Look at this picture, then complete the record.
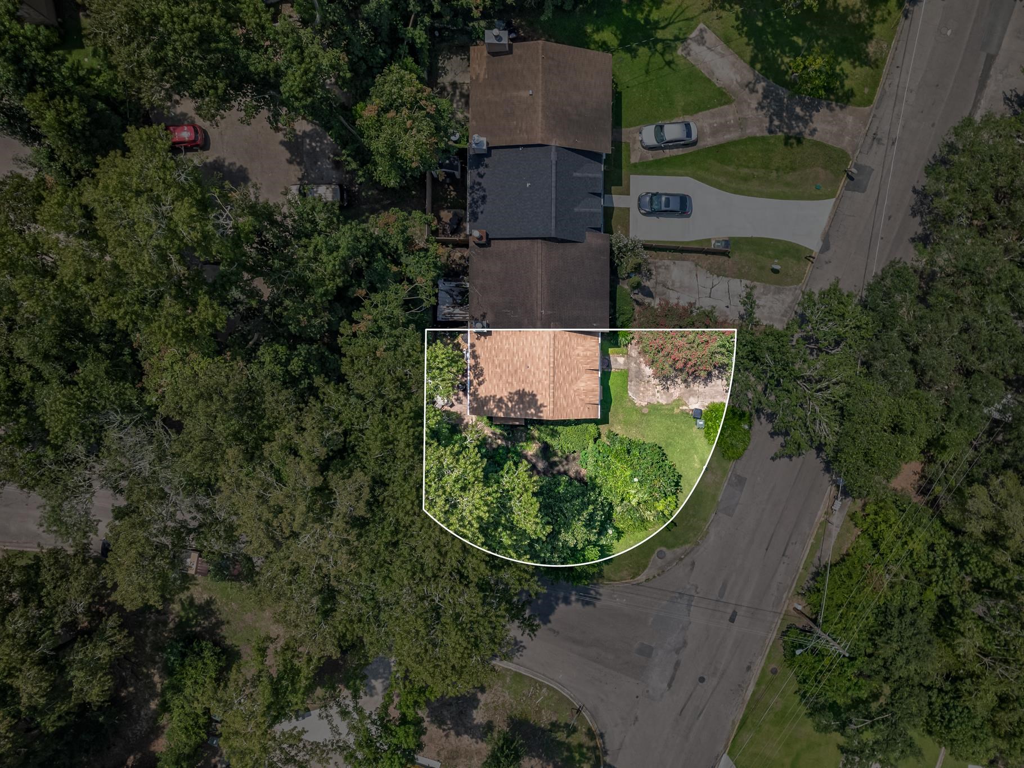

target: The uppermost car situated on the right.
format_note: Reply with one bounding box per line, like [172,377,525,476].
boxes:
[639,120,699,150]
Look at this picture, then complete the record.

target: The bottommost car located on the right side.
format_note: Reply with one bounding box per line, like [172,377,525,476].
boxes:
[638,189,694,217]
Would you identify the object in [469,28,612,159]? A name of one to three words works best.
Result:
house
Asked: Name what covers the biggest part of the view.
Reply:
trees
